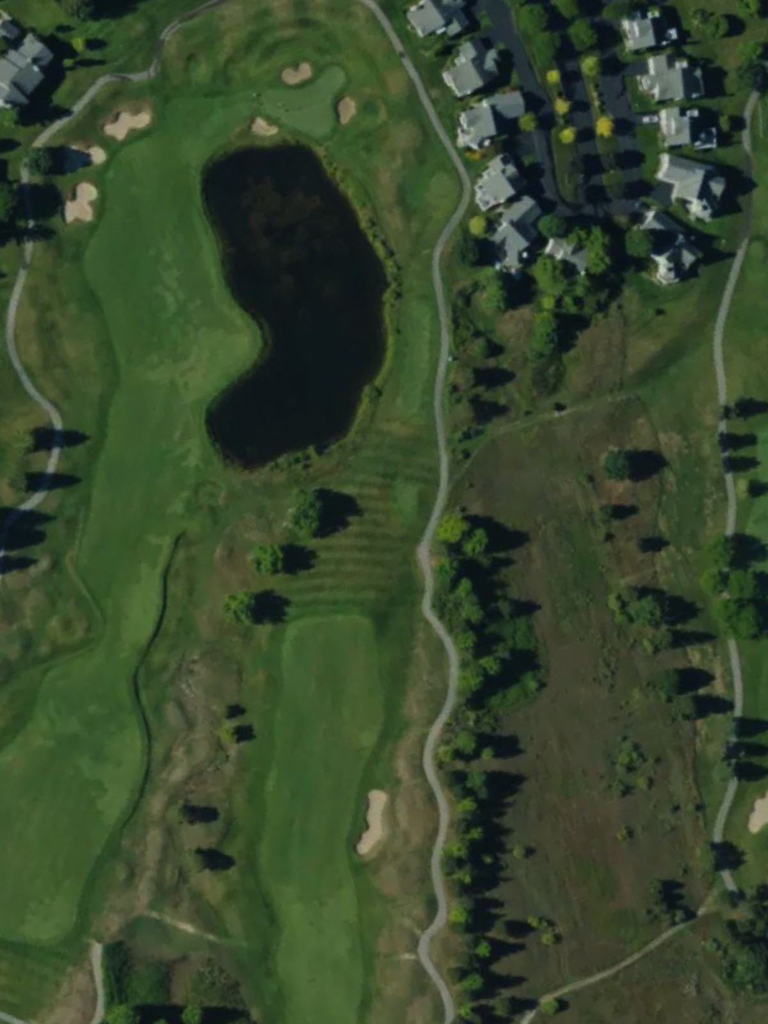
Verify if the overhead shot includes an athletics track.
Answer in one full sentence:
No, the picture doesn't show any athletics track.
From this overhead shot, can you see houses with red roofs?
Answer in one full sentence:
No, I can't see a single house with a red roof in this photo.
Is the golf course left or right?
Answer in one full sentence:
The golf course appears in the left half of the scene.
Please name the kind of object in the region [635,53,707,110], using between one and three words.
house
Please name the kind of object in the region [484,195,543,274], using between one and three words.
house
